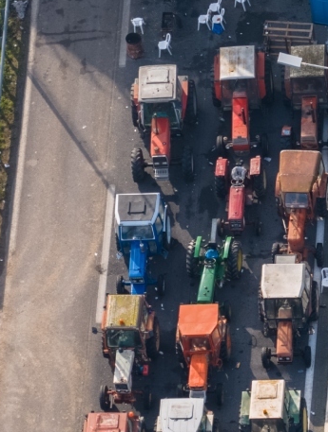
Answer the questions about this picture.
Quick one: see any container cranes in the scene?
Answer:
No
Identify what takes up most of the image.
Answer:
paved ground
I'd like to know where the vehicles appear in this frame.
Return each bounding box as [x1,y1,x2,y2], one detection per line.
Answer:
[91,291,160,411]
[237,374,309,432]
[131,60,196,183]
[272,151,328,267]
[174,302,233,408]
[113,190,171,302]
[153,394,220,432]
[80,411,144,432]
[257,255,318,377]
[212,43,274,161]
[280,41,328,158]
[212,152,265,238]
[184,229,245,316]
